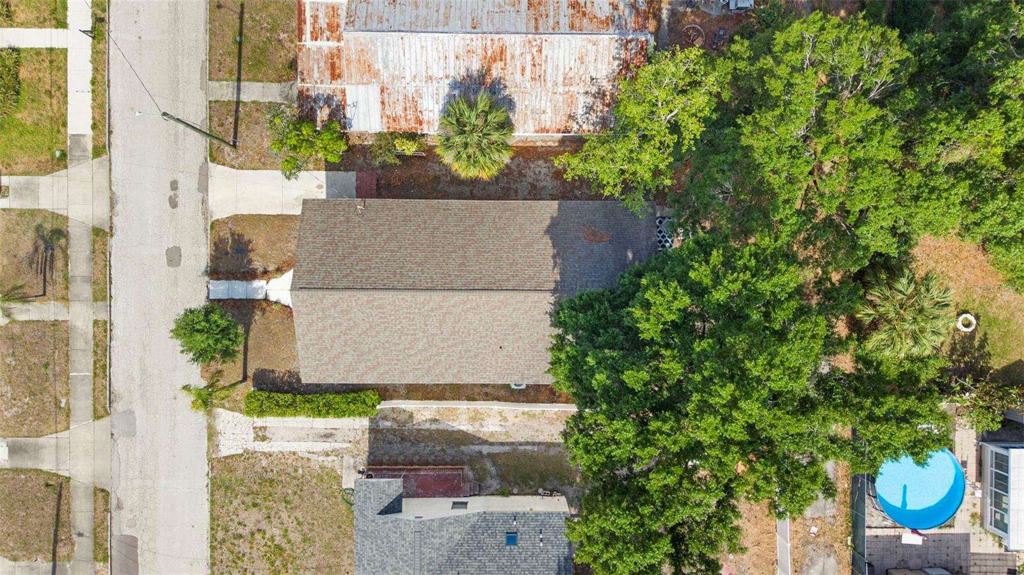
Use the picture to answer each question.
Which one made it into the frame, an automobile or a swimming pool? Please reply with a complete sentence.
Looking from above, you can make out a swimming pool.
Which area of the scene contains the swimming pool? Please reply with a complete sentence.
You can find the swimming pool in the bottom right area of the picture.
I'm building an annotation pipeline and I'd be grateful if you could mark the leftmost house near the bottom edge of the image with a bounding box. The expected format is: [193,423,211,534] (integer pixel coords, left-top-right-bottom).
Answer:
[354,466,570,575]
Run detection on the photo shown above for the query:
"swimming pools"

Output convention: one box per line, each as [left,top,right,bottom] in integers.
[866,435,966,530]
